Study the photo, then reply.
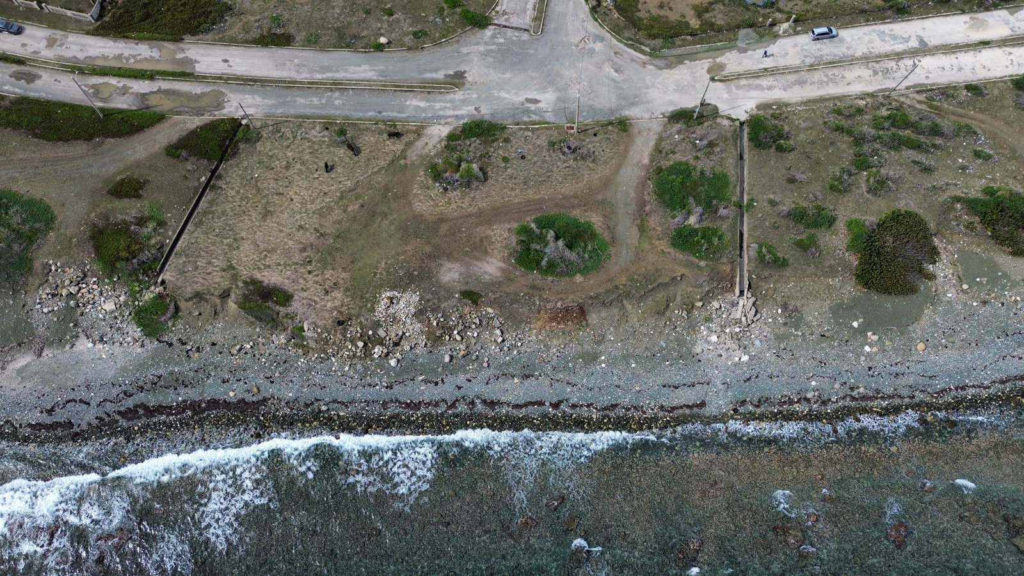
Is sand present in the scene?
Yes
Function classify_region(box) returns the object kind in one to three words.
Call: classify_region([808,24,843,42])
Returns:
car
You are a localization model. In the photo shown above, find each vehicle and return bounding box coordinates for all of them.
[0,20,23,38]
[808,24,843,42]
